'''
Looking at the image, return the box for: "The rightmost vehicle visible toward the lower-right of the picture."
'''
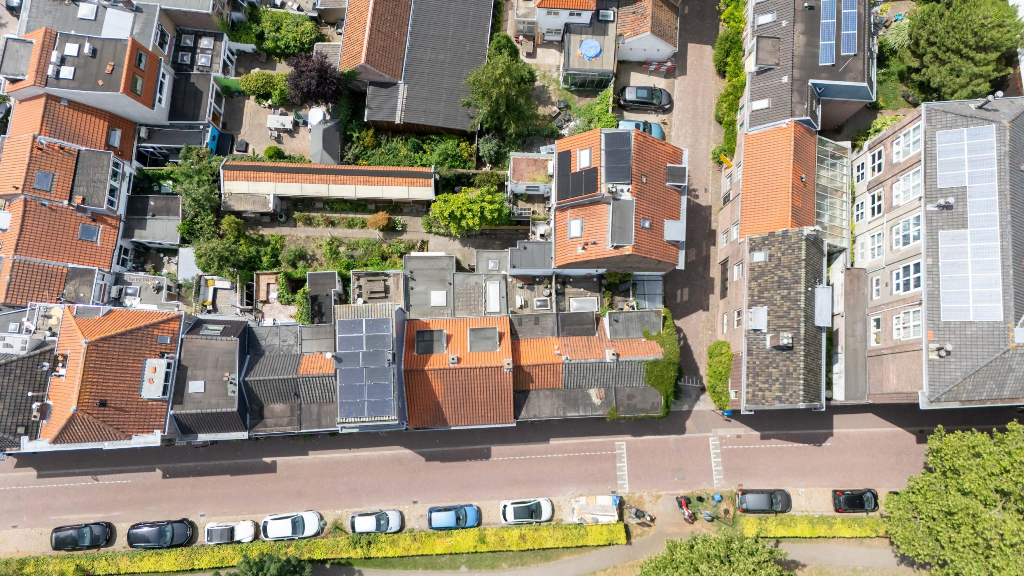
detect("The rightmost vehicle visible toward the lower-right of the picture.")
[830,488,878,516]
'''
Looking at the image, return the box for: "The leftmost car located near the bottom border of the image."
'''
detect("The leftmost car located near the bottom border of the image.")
[49,520,113,551]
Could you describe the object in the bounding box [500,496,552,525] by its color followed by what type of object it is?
white car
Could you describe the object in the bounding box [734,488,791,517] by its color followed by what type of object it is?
gray car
